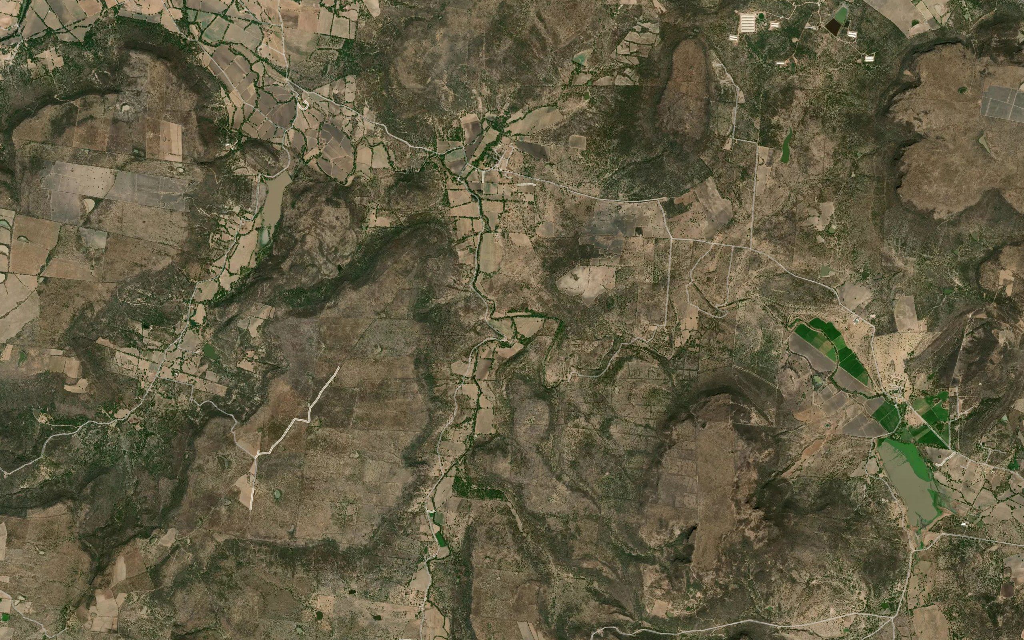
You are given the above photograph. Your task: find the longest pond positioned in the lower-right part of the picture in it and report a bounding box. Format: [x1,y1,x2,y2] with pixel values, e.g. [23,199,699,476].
[877,441,936,528]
